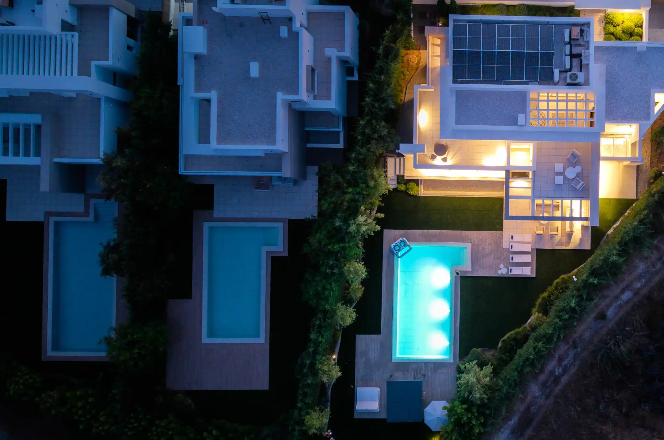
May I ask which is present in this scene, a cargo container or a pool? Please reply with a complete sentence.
It is a pool that can be seen here.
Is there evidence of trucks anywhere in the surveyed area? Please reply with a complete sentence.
No, this view has no truck in it.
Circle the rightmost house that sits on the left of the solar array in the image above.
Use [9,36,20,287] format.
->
[179,0,359,180]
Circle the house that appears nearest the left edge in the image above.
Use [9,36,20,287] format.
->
[0,0,144,193]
